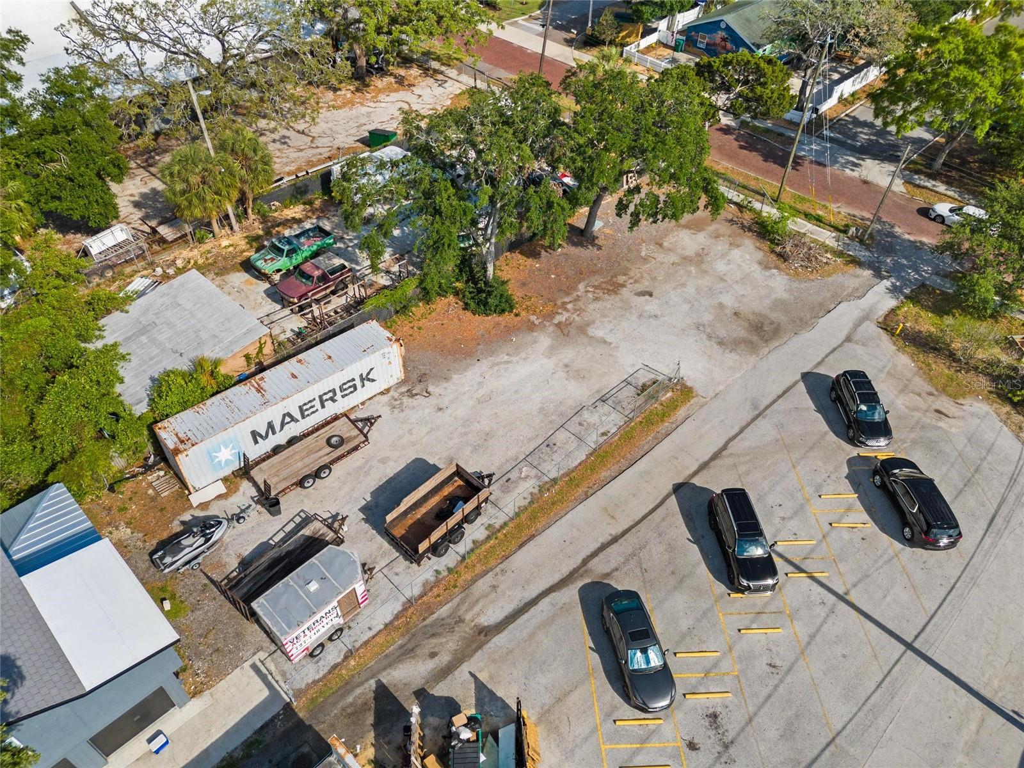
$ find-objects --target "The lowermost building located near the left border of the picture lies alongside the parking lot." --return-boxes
[0,483,200,768]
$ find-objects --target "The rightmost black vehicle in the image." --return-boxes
[871,456,964,553]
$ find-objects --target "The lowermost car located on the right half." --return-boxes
[600,587,679,716]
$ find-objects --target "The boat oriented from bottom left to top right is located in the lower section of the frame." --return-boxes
[156,519,229,578]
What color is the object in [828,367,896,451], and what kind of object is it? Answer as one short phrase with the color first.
black car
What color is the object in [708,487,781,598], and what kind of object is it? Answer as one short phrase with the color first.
black car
